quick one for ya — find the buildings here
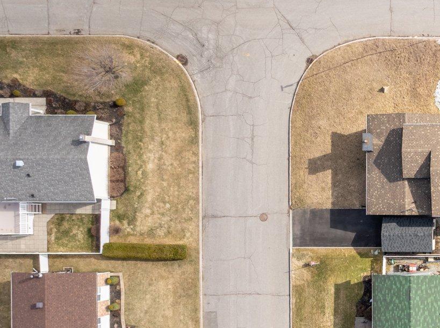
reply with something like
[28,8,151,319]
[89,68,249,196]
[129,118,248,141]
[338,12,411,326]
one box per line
[380,218,436,253]
[372,275,440,328]
[361,113,440,217]
[0,101,114,201]
[11,273,112,328]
